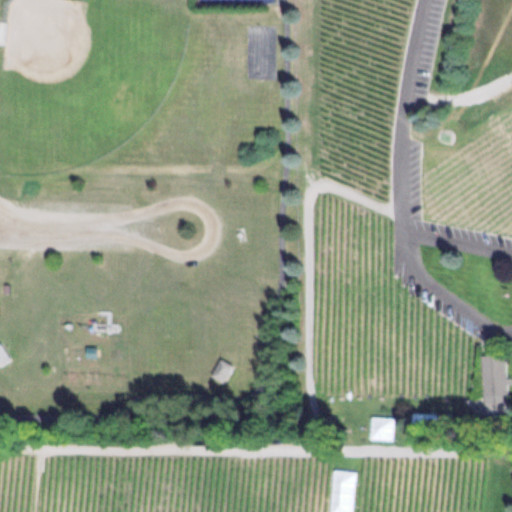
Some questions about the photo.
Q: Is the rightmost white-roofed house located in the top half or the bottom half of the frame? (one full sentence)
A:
You can find the rightmost white-roofed house in the bottom half.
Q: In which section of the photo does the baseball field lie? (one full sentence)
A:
The baseball field is in the top left part of the image.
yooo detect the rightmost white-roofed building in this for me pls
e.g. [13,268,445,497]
[370,418,395,442]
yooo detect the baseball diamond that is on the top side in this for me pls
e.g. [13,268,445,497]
[0,0,189,176]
